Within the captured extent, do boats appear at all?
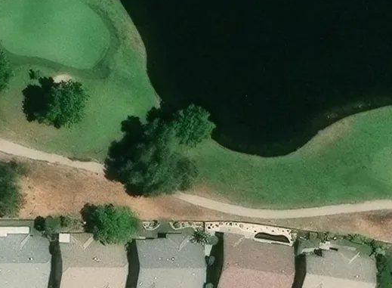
No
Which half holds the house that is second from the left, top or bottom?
bottom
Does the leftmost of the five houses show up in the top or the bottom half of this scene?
bottom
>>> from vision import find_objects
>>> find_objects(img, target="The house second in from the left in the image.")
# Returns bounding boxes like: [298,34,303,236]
[60,234,128,288]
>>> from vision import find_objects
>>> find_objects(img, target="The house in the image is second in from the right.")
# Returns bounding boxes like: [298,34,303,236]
[218,235,295,288]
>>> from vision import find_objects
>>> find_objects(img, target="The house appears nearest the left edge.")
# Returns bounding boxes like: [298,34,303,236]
[0,234,52,288]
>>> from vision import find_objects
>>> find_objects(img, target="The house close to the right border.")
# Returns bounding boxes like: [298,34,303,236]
[301,244,377,288]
